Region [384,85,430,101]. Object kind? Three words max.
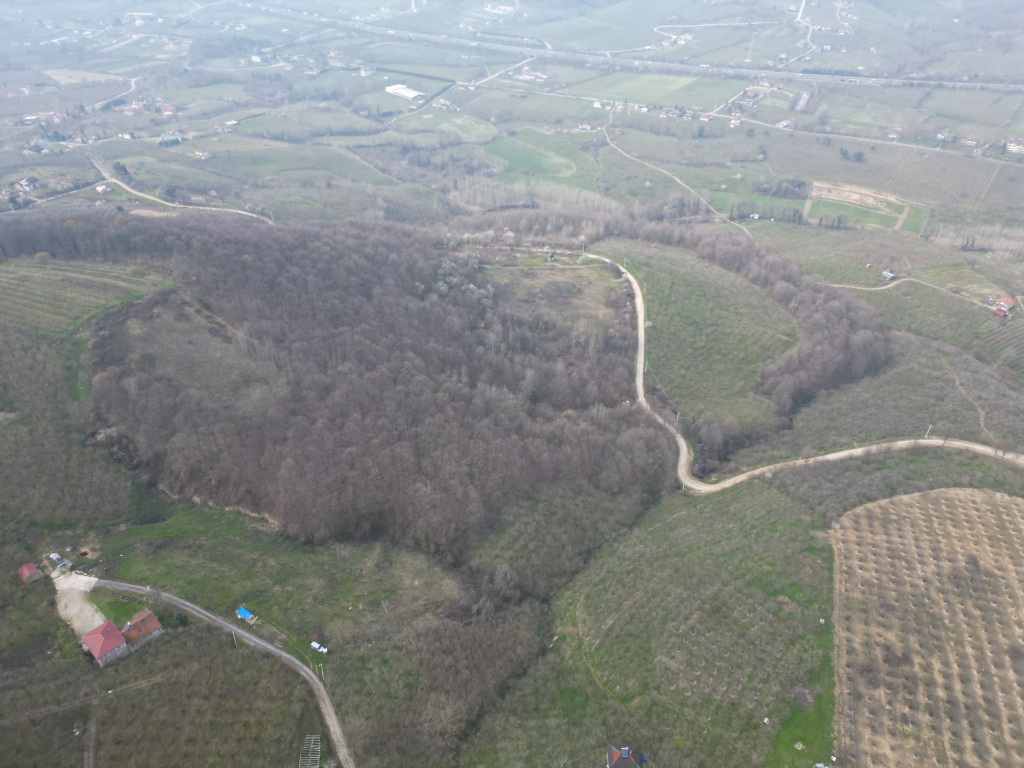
building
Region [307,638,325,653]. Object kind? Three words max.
vehicle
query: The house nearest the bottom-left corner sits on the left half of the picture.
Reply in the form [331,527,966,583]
[79,620,128,664]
